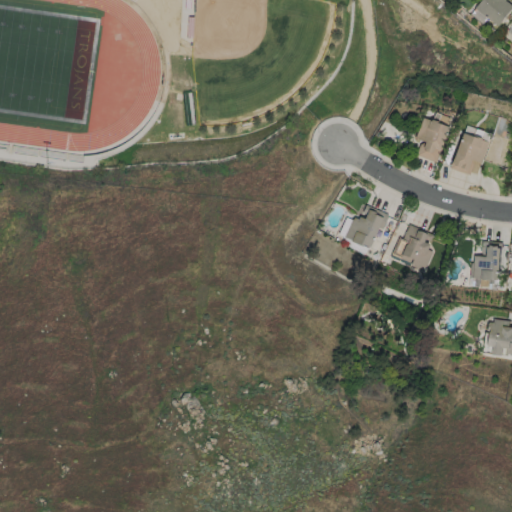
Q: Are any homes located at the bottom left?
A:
No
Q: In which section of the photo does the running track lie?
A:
top left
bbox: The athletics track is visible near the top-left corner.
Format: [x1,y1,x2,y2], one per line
[0,0,161,154]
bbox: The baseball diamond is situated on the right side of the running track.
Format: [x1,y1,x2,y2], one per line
[194,0,336,124]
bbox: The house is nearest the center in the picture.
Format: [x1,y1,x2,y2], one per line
[346,206,390,249]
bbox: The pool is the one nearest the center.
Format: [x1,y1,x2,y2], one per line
[328,206,344,228]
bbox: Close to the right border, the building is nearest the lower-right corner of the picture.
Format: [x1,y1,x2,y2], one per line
[484,316,512,356]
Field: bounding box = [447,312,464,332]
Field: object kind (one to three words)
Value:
swimming pool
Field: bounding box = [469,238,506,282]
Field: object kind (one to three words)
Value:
house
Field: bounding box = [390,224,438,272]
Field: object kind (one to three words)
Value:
house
